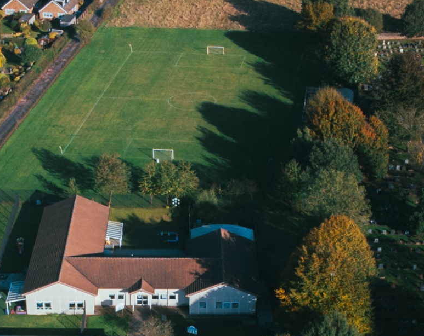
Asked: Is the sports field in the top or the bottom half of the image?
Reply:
top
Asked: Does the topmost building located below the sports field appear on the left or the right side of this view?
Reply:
left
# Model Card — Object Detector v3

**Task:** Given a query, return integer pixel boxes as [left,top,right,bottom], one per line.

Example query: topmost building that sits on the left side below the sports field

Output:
[5,194,260,314]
